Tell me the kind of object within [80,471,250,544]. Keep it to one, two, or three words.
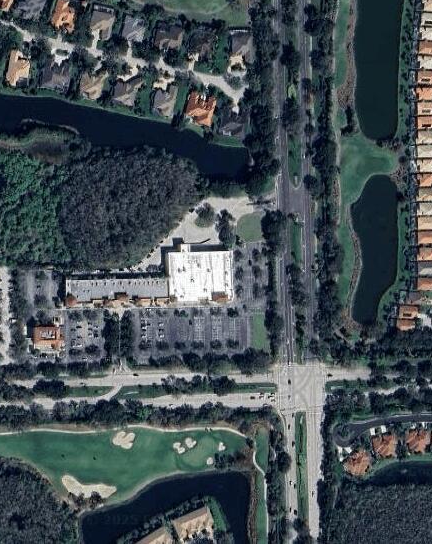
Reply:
pond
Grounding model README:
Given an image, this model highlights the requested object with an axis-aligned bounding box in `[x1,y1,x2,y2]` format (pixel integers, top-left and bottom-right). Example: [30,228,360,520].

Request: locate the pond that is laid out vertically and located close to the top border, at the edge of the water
[354,0,404,140]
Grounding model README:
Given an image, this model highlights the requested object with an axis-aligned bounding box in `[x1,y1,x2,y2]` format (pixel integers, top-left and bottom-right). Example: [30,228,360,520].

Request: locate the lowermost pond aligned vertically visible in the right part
[353,175,400,322]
